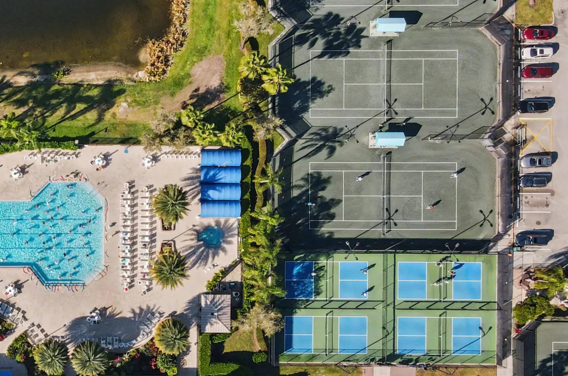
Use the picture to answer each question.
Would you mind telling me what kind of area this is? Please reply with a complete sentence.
What you see here is a sports ground.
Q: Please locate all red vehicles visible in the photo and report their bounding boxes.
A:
[523,25,554,40]
[521,64,553,78]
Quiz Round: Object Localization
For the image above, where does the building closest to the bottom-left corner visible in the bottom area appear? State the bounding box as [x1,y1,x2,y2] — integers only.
[199,294,230,333]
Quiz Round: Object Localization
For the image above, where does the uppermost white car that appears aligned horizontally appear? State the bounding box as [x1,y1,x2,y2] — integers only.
[520,45,552,59]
